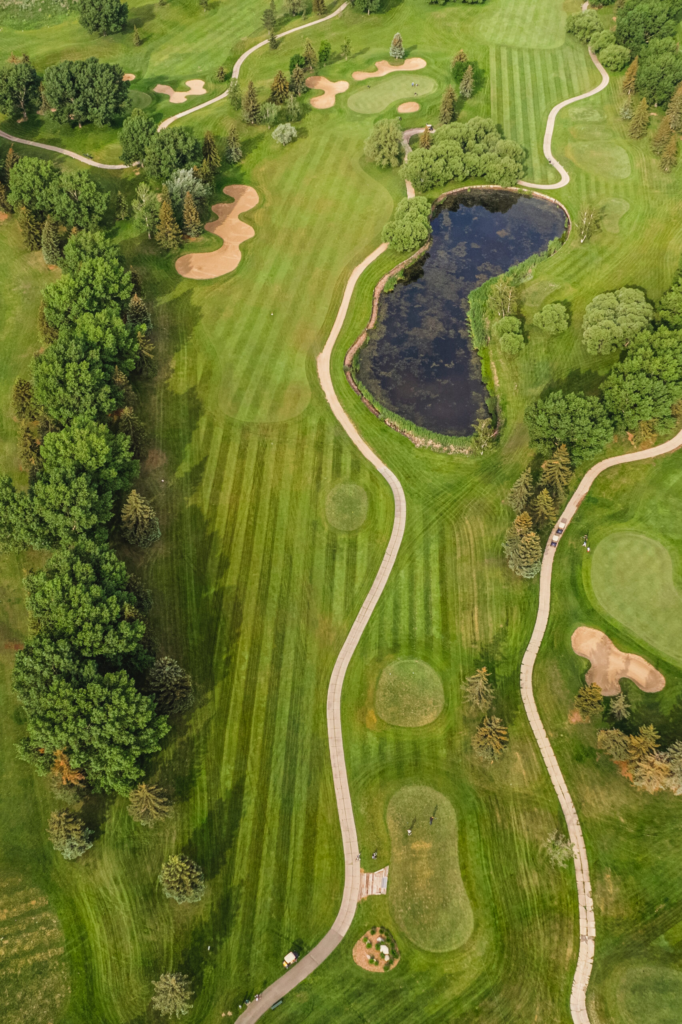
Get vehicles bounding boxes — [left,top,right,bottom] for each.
[425,122,433,131]
[280,948,299,968]
[549,532,559,547]
[555,520,565,534]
